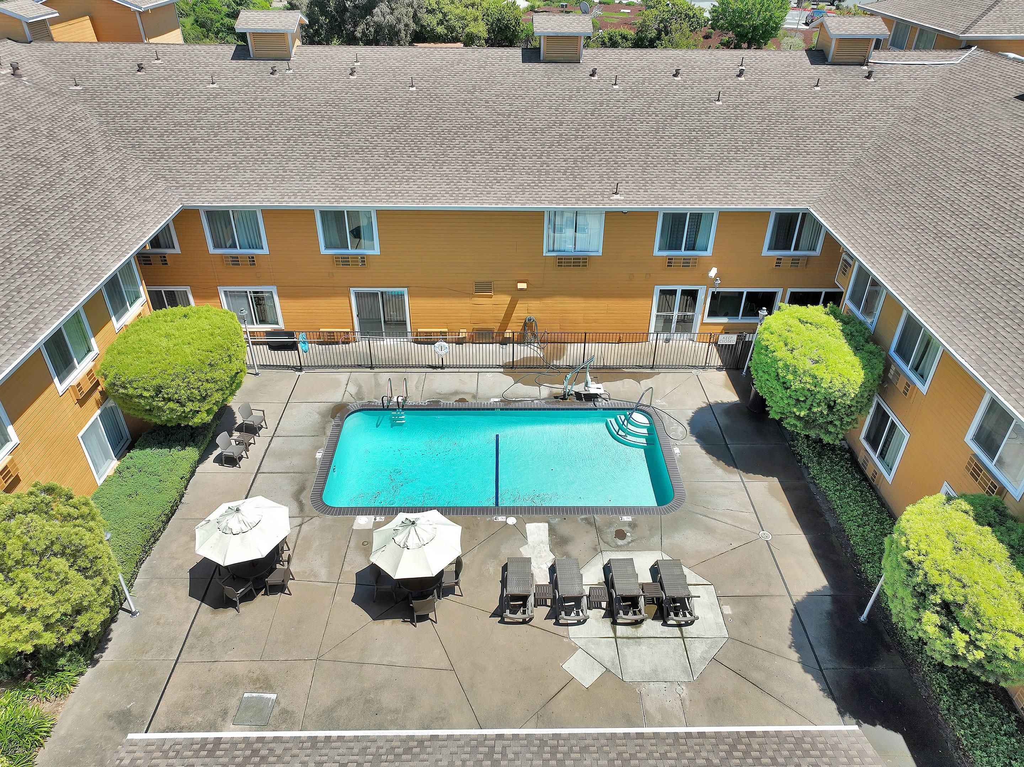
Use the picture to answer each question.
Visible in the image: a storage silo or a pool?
pool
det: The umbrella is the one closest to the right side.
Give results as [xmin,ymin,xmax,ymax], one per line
[368,510,462,581]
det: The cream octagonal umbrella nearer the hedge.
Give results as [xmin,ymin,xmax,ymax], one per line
[195,496,291,568]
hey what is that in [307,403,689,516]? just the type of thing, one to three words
swimming pool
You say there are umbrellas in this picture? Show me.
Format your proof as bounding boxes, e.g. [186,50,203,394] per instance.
[195,496,291,568]
[368,510,462,581]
